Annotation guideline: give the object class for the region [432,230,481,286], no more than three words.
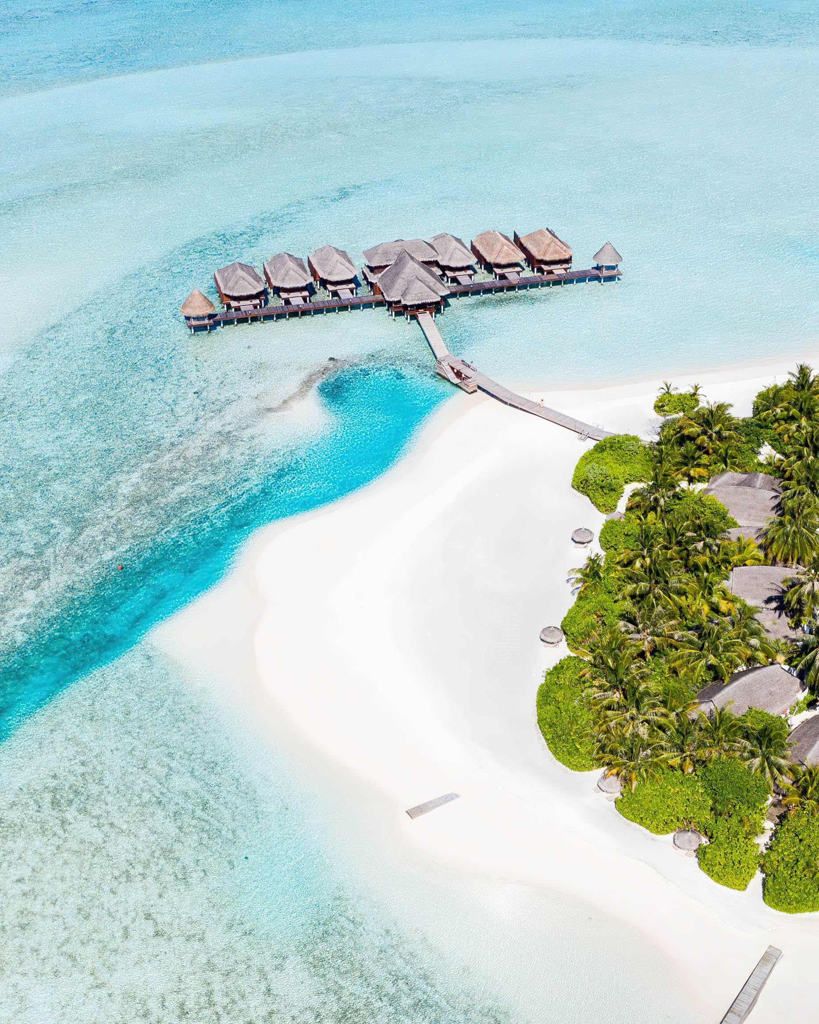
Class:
house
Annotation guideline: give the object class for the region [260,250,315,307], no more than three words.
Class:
house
